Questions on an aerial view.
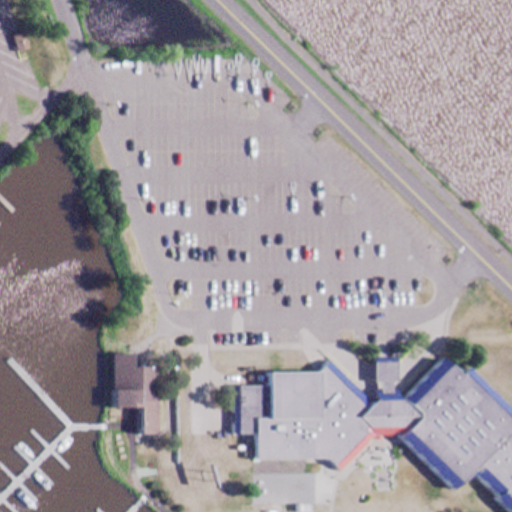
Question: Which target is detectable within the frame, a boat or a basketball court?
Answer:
boat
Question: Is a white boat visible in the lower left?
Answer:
Yes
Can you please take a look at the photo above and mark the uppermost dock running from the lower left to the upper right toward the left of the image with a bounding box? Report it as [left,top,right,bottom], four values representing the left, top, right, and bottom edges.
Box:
[0,426,74,503]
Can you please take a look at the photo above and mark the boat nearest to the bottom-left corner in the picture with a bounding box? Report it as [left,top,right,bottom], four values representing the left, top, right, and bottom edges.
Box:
[17,489,38,510]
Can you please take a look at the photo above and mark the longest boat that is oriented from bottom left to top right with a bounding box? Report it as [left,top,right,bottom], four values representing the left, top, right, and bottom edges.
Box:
[56,436,74,454]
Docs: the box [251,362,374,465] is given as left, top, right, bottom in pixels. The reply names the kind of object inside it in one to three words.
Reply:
building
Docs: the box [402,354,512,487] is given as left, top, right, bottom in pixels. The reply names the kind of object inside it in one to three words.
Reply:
building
